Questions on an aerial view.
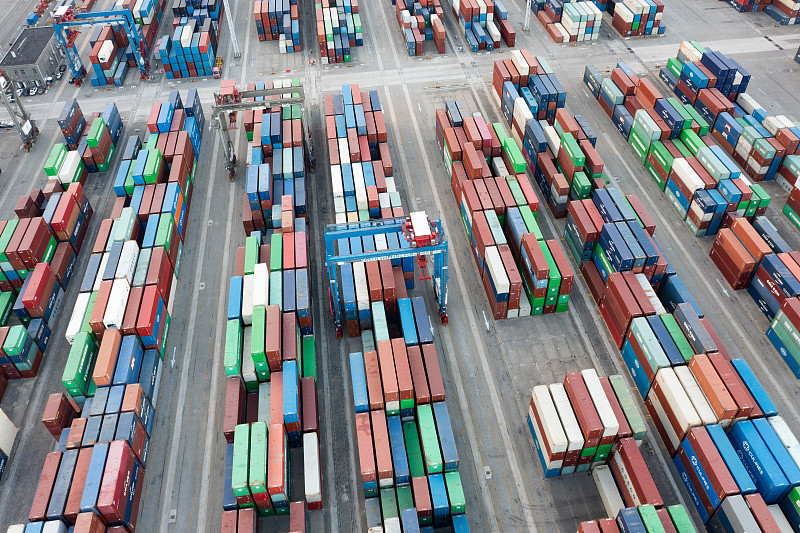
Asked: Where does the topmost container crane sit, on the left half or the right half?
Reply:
left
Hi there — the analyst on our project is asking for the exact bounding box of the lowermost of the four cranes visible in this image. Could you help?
[320,212,450,342]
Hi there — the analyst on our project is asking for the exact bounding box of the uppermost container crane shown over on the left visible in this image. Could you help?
[51,5,150,85]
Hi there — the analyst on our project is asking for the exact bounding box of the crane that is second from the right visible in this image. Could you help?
[211,81,316,183]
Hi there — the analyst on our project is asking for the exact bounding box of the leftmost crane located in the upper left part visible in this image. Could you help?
[0,64,38,152]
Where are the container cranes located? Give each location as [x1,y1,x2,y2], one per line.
[0,64,38,152]
[211,81,316,183]
[51,5,150,85]
[320,212,450,342]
